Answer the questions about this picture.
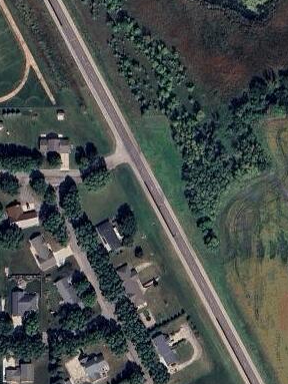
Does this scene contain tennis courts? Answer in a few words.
No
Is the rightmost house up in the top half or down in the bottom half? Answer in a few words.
bottom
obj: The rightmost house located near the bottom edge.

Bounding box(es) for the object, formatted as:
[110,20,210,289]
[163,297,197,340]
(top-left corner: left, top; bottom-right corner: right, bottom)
[151,333,180,365]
